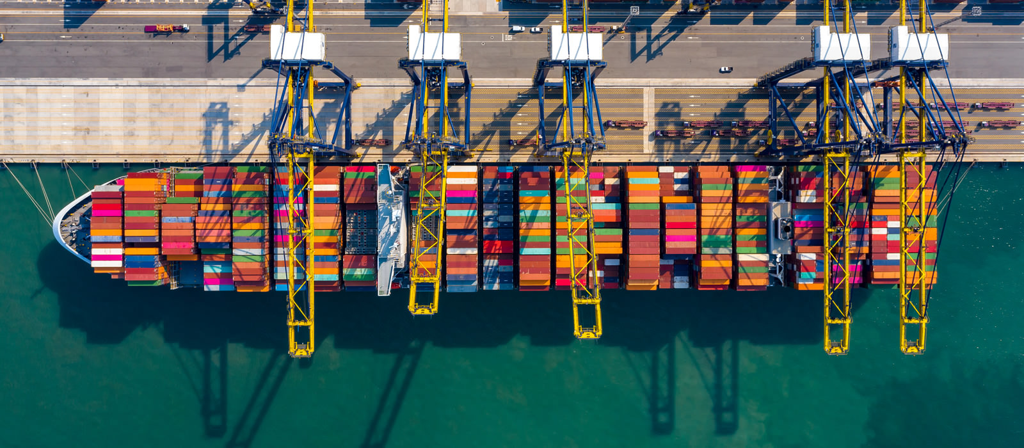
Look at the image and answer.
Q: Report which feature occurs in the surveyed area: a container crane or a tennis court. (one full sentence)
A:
The image shows a container crane.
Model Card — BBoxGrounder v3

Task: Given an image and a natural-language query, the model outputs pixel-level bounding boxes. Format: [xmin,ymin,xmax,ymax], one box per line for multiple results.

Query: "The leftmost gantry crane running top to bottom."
[259,0,368,360]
